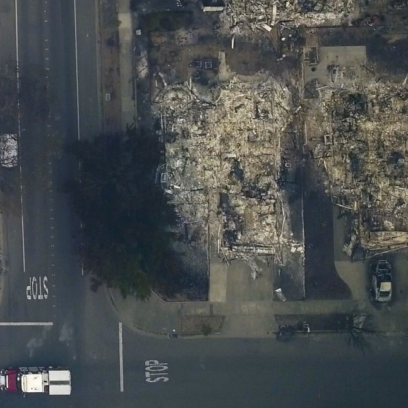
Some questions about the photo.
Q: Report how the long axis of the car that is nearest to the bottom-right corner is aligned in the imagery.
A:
up and down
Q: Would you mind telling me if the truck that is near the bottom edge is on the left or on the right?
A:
left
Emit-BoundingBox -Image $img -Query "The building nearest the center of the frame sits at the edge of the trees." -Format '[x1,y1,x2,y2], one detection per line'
[162,76,300,255]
